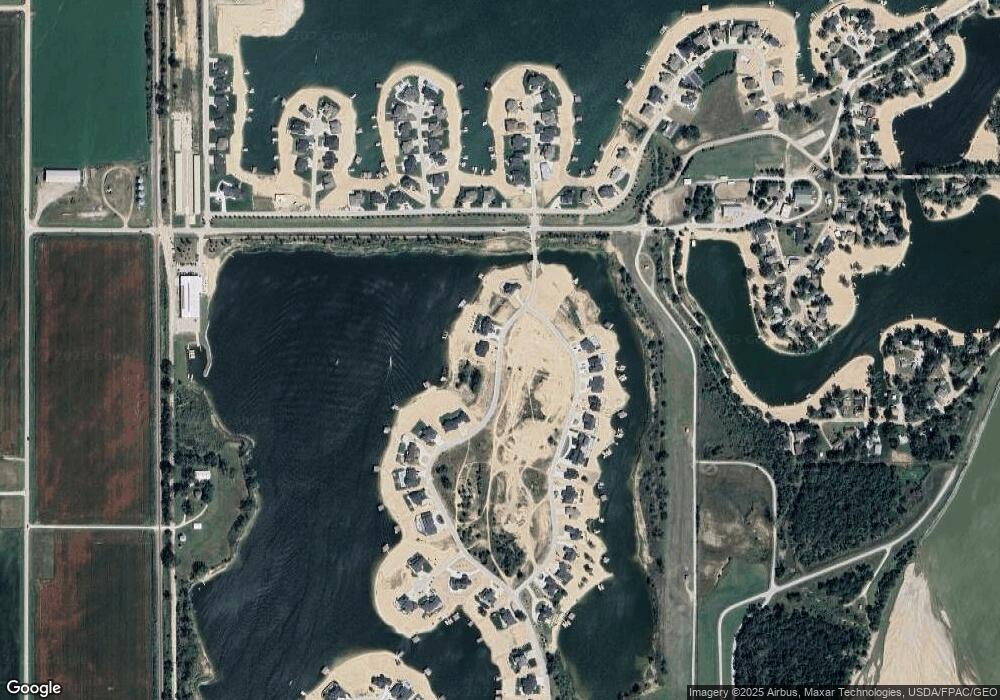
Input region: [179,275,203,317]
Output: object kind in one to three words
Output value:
building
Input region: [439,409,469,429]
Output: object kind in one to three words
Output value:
house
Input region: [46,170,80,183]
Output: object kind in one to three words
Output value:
barn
